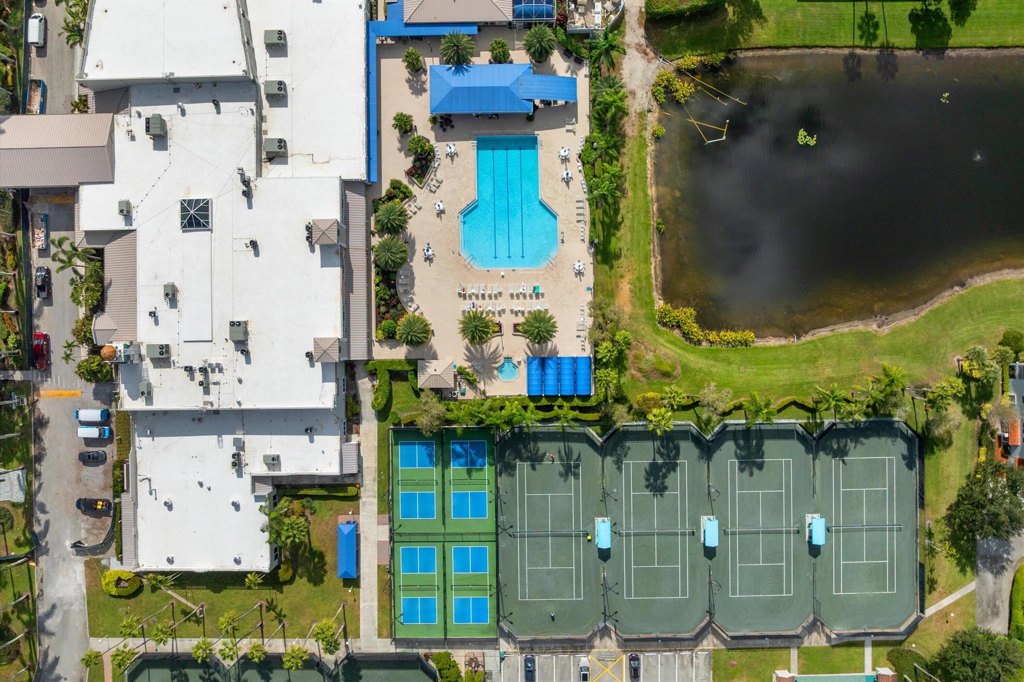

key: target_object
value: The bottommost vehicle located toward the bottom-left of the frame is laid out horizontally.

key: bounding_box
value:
[77,498,113,513]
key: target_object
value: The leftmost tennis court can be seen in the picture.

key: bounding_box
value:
[124,653,226,682]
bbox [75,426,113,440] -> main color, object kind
white vehicle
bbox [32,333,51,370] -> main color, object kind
red vehicle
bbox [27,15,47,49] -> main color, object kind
white vehicle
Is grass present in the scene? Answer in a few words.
Yes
